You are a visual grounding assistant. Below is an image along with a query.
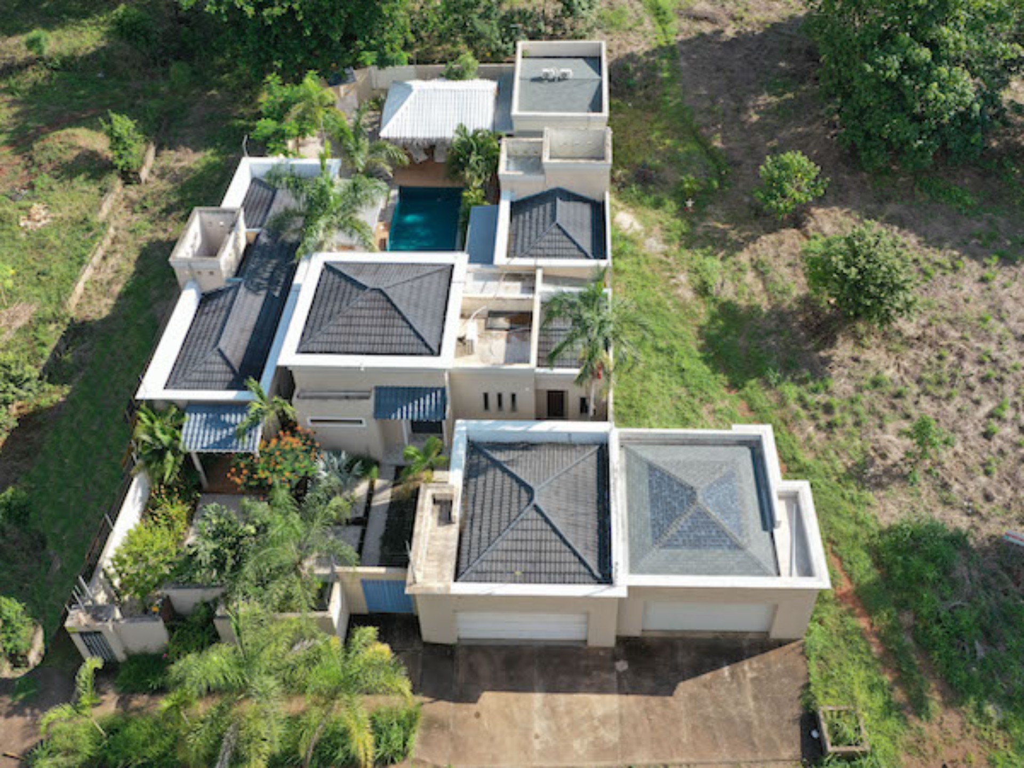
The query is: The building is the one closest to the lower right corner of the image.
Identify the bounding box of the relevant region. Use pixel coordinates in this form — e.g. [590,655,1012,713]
[615,425,830,636]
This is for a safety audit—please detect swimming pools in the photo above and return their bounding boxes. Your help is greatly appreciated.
[380,184,466,253]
